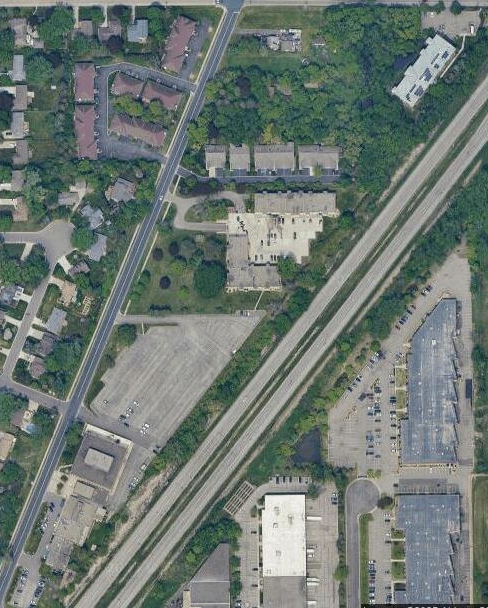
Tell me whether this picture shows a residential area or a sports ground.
residential area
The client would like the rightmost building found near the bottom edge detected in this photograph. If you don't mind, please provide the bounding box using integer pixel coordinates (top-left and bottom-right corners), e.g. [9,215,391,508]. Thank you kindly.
[393,495,460,608]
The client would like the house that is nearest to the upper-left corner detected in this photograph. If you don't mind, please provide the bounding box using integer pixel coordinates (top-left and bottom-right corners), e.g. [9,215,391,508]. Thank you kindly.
[11,18,26,46]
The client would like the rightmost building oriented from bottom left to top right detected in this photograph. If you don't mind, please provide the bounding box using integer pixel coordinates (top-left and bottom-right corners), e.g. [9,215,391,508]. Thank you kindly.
[392,34,456,106]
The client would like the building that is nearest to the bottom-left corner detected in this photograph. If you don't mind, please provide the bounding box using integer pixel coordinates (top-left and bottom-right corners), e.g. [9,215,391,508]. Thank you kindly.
[47,538,73,571]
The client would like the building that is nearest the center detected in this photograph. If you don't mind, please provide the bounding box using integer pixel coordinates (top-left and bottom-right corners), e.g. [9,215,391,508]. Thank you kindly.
[227,234,280,291]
